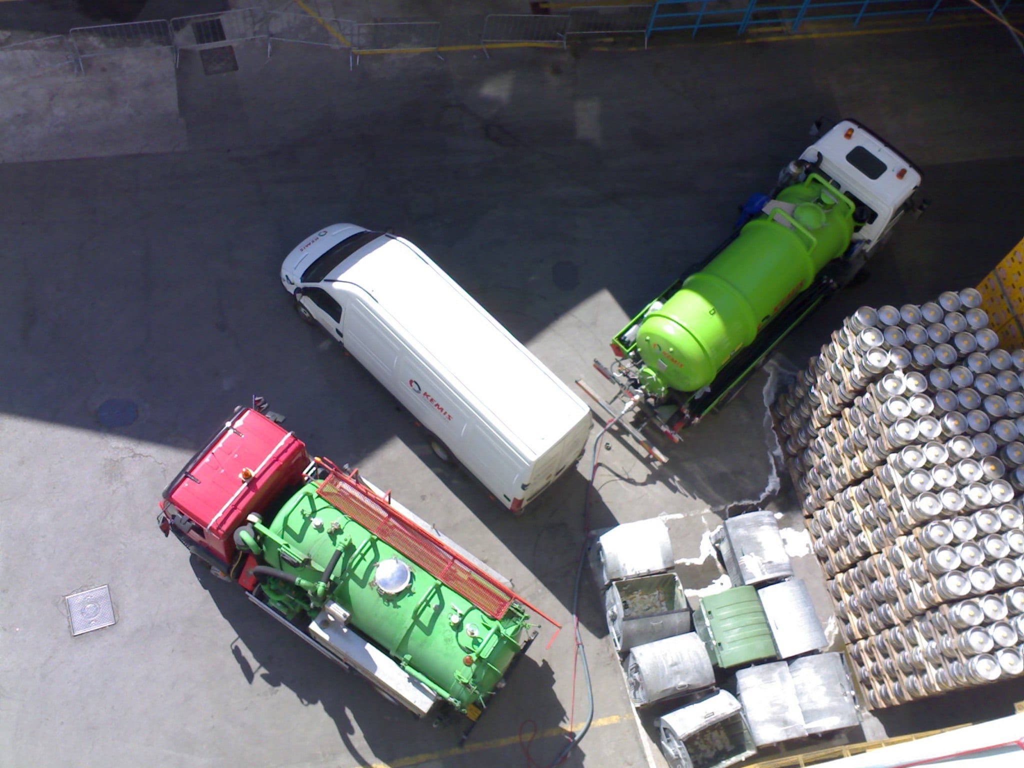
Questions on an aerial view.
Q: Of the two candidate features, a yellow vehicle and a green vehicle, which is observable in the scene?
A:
green vehicle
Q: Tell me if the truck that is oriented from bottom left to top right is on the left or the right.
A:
right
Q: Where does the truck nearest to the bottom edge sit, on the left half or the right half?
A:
left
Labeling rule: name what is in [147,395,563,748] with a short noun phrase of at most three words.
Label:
truck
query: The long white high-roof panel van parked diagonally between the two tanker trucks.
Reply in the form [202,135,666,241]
[283,221,595,507]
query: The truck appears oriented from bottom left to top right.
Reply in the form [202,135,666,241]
[572,116,928,465]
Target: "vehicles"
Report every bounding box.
[283,221,595,507]
[147,395,563,748]
[572,116,928,465]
